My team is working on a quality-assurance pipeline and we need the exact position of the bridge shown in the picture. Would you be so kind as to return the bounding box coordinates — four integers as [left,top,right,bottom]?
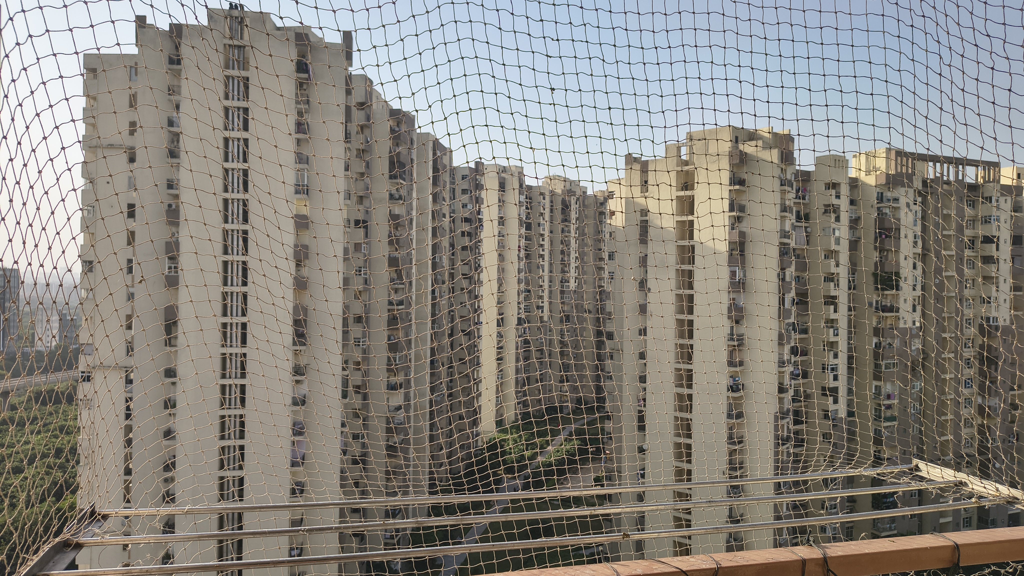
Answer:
[0,369,79,395]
